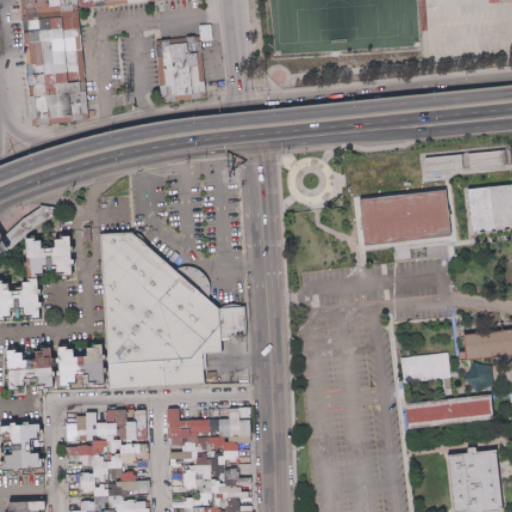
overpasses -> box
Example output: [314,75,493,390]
[0,86,512,203]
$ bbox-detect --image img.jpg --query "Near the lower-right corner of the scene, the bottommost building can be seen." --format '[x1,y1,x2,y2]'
[448,447,504,512]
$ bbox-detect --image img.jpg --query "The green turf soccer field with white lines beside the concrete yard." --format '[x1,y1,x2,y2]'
[271,0,422,58]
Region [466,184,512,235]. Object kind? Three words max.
building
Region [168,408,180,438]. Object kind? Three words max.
house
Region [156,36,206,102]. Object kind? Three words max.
building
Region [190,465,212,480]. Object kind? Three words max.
house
